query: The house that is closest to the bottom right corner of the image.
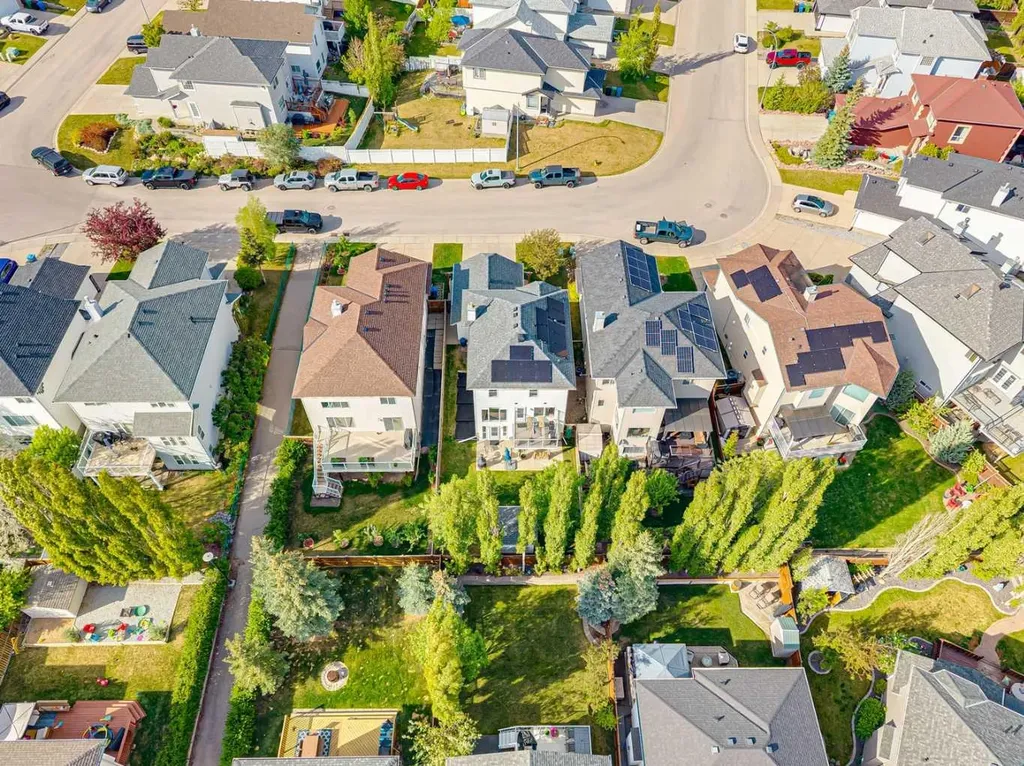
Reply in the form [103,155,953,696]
[863,646,1024,766]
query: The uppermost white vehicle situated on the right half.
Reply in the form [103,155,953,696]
[734,33,751,53]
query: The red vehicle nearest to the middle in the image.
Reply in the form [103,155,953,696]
[386,172,429,191]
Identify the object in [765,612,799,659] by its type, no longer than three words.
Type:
shed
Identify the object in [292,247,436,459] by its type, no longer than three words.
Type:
house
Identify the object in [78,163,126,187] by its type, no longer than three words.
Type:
car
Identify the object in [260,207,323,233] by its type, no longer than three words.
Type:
truck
